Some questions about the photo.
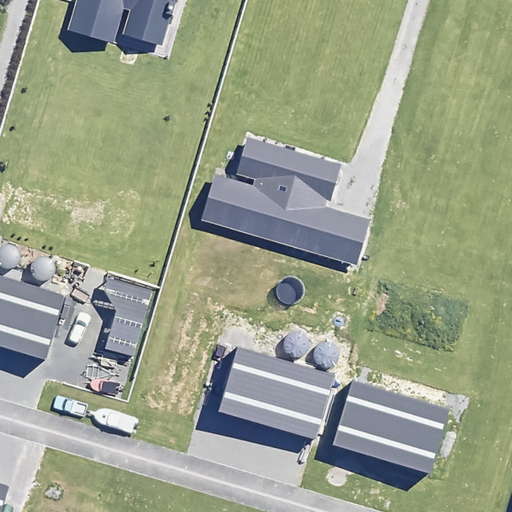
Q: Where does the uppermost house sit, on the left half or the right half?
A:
left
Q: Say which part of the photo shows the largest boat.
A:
bottom left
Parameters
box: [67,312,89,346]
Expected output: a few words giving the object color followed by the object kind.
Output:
white car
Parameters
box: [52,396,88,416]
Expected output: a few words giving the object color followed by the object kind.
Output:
white vehicle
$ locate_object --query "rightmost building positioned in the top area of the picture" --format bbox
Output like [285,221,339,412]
[201,137,370,266]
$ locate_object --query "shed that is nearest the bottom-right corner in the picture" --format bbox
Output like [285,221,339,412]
[332,380,450,474]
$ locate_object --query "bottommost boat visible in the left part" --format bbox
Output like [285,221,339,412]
[92,408,140,432]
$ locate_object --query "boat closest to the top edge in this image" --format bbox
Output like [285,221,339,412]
[86,381,122,396]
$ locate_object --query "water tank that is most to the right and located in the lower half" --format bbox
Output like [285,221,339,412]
[313,342,339,369]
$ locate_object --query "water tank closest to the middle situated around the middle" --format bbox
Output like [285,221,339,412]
[276,275,305,305]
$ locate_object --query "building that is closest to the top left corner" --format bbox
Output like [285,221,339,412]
[64,0,186,58]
